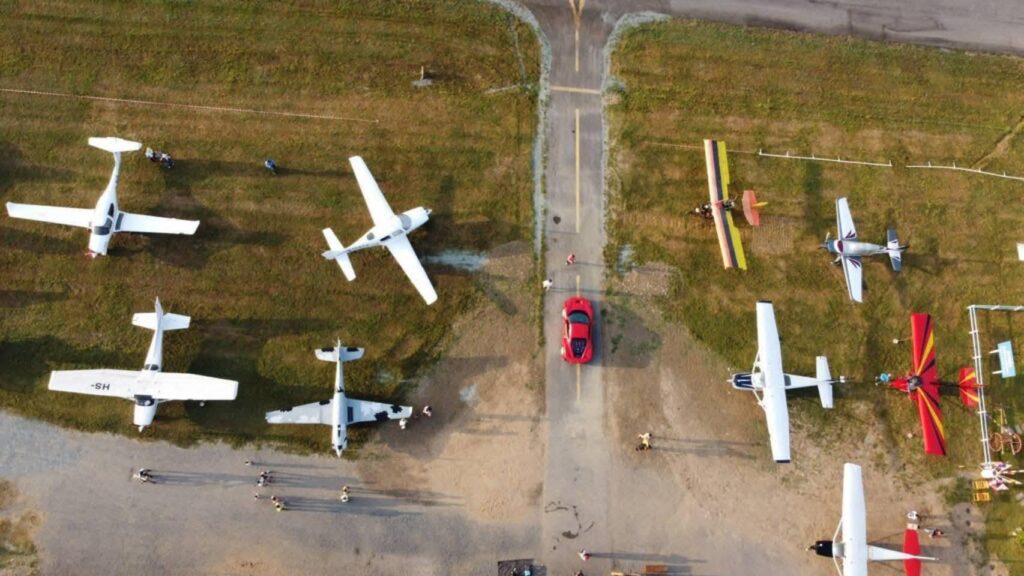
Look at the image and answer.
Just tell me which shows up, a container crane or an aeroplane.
aeroplane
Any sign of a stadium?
No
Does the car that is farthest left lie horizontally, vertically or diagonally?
vertically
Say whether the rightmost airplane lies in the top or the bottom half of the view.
bottom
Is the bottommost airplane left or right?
right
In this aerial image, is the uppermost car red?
Yes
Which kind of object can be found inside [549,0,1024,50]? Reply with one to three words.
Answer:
runway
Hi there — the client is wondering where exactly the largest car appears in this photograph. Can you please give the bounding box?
[562,297,596,367]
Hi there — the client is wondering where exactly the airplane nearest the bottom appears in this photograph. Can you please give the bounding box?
[803,464,936,576]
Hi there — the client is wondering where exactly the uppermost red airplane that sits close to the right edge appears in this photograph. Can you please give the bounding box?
[883,313,993,454]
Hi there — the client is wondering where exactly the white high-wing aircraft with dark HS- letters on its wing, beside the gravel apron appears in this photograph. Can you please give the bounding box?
[48,296,238,433]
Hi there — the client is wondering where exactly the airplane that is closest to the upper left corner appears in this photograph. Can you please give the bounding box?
[7,133,196,260]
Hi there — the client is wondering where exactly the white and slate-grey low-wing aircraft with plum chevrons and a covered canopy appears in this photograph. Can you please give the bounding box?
[817,197,914,303]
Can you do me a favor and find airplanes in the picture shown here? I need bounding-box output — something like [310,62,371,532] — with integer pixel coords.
[817,197,914,303]
[319,156,435,304]
[7,133,196,260]
[883,313,993,454]
[266,336,411,458]
[803,464,936,576]
[726,301,852,462]
[48,296,238,433]
[685,142,772,268]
